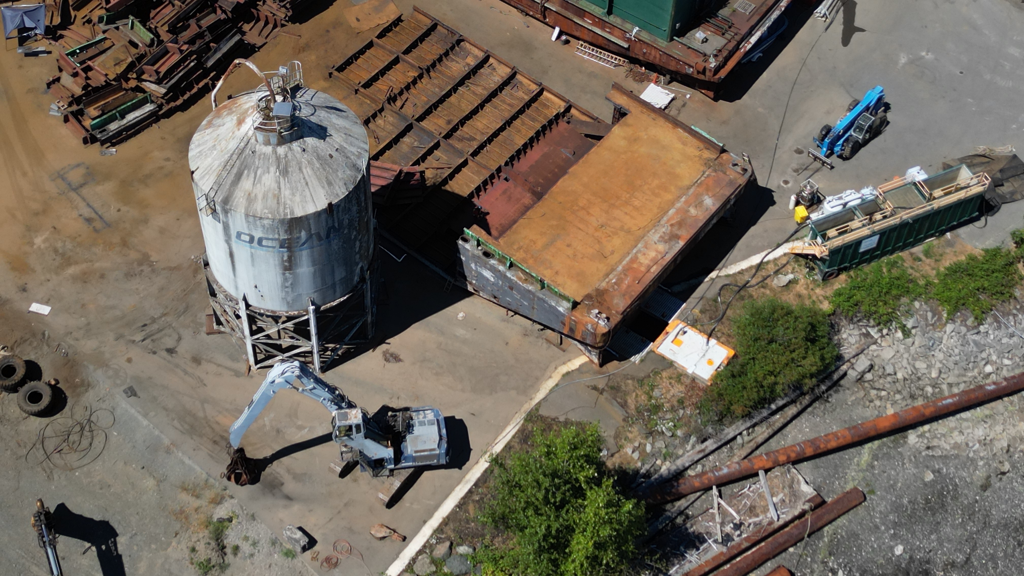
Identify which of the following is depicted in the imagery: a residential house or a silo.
silo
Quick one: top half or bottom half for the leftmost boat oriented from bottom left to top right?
top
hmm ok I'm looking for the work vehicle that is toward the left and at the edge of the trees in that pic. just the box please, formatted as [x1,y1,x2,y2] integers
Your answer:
[220,353,460,510]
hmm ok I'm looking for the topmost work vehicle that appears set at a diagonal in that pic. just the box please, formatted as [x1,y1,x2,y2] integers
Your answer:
[800,77,889,177]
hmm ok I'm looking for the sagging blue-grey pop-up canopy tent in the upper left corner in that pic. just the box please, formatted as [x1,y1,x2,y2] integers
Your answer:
[2,6,51,60]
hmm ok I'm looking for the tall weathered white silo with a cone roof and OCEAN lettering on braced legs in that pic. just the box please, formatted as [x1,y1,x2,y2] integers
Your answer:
[183,58,382,372]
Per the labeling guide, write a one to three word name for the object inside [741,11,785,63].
boat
